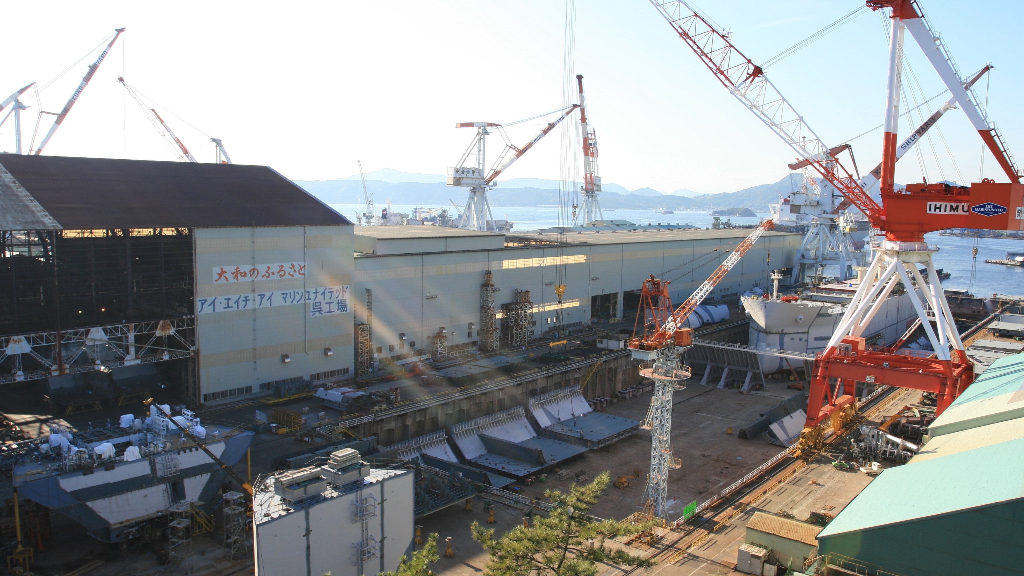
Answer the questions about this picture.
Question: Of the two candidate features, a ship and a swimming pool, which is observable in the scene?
ship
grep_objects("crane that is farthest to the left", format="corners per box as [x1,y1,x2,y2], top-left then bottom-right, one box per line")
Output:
[0,28,126,153]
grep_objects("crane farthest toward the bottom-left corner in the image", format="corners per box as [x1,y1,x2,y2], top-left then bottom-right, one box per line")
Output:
[138,394,254,548]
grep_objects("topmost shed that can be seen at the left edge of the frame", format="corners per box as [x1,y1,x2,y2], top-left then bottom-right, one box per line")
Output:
[0,151,357,440]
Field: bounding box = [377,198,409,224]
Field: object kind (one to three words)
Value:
ship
